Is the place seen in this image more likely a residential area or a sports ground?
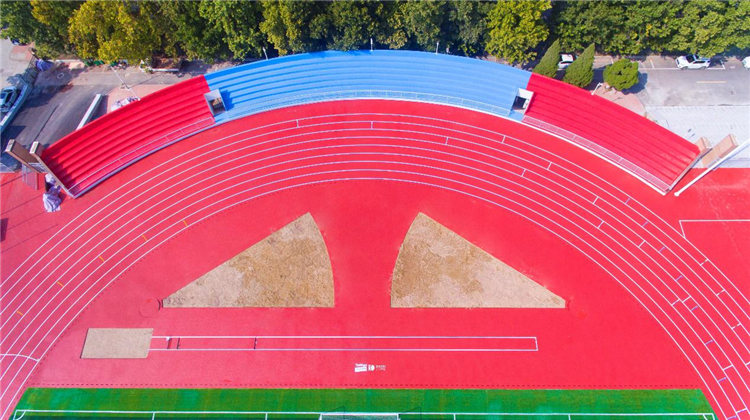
sports ground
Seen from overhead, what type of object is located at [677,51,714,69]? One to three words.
car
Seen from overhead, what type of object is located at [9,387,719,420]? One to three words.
soccer field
